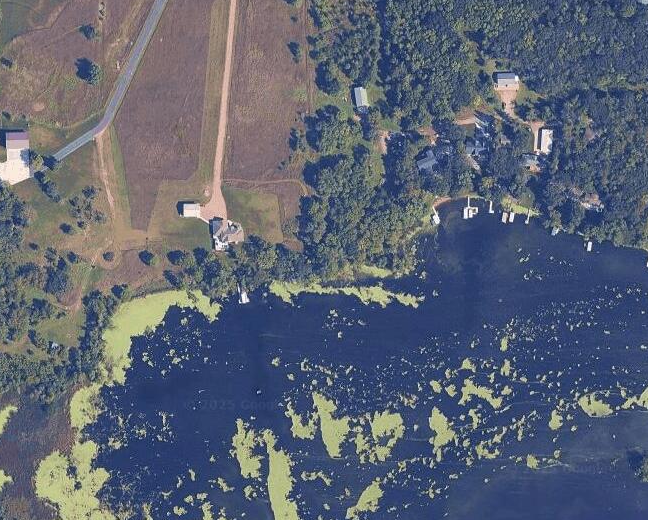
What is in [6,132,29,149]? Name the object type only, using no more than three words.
barn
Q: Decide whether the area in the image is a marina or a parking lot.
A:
marina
